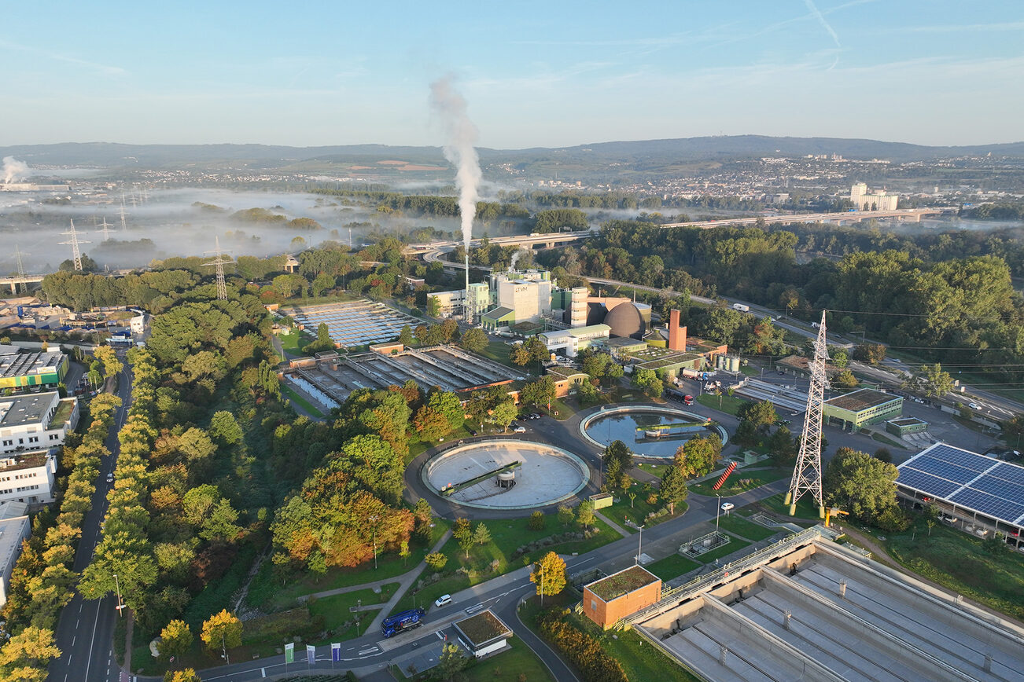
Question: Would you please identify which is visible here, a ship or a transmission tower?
transmission tower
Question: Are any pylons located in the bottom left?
No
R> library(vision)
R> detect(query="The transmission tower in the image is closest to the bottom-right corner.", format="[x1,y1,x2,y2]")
[786,311,843,518]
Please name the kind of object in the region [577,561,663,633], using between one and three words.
building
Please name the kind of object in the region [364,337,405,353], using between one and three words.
house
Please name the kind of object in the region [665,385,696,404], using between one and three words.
vehicle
